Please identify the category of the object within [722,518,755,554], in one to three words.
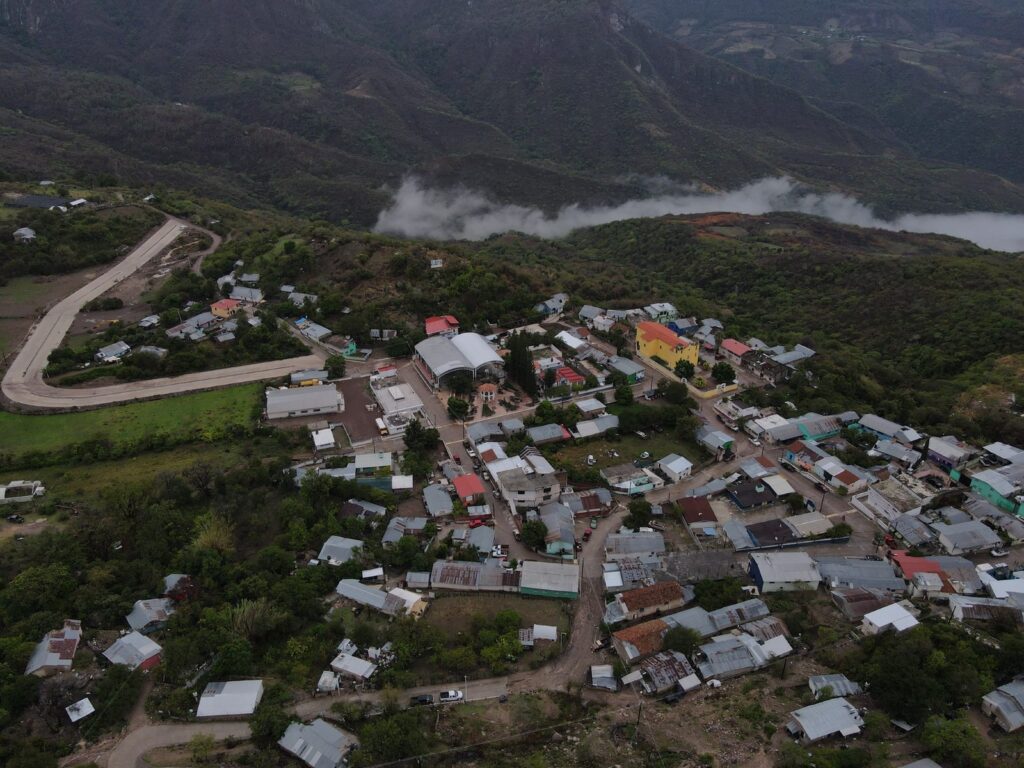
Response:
shed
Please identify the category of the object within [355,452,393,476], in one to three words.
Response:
house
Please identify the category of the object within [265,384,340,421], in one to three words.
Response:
building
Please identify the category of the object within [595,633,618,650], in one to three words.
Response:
vehicle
